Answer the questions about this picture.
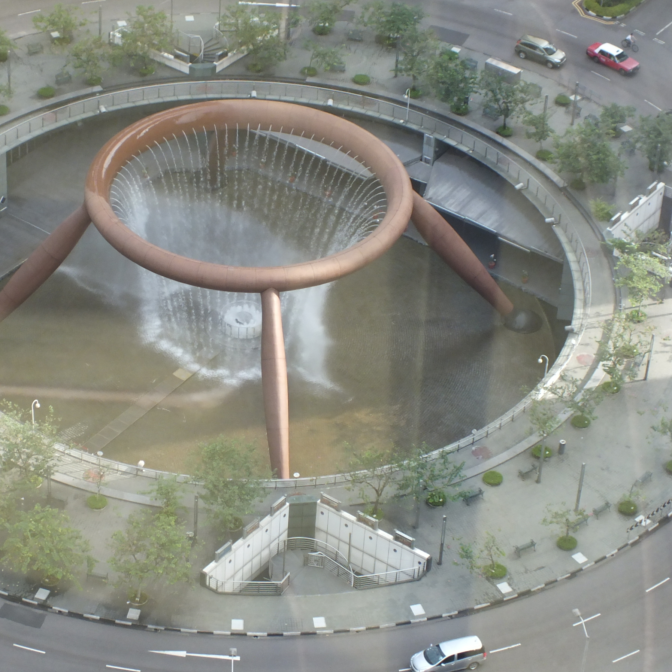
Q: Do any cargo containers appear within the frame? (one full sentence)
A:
No, I can see no cargo container in this picture.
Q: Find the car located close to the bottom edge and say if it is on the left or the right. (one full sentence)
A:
The car located close to the bottom edge sits on the right side.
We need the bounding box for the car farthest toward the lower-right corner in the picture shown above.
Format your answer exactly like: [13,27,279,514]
[408,633,489,672]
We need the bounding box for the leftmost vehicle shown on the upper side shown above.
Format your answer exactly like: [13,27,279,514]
[514,32,571,69]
